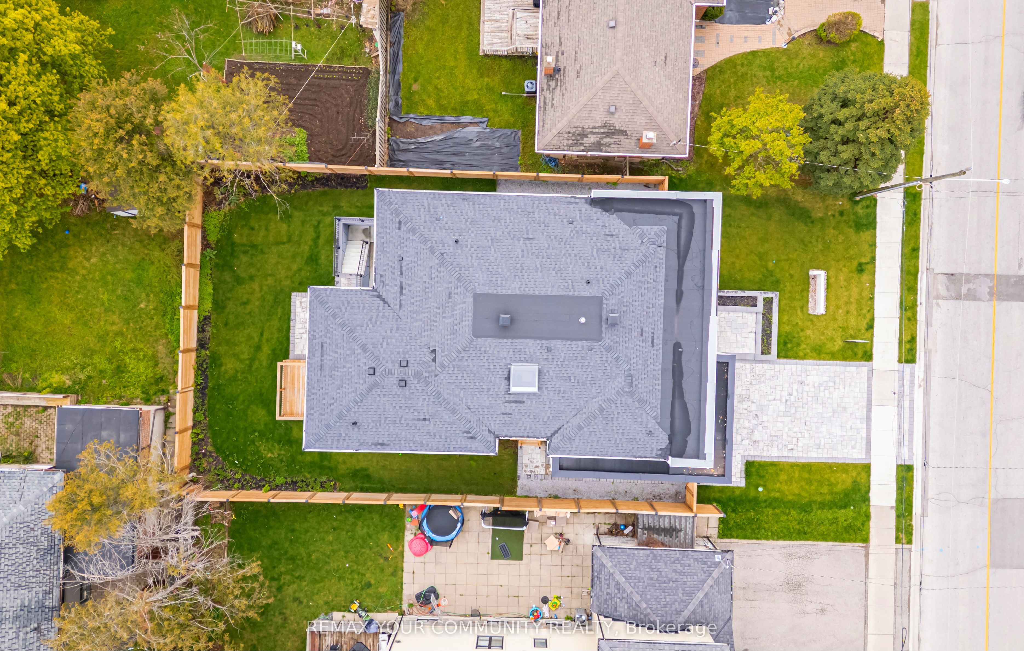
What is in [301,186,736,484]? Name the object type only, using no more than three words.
house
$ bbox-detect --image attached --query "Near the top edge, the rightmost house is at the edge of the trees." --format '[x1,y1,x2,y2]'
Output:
[534,0,729,161]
